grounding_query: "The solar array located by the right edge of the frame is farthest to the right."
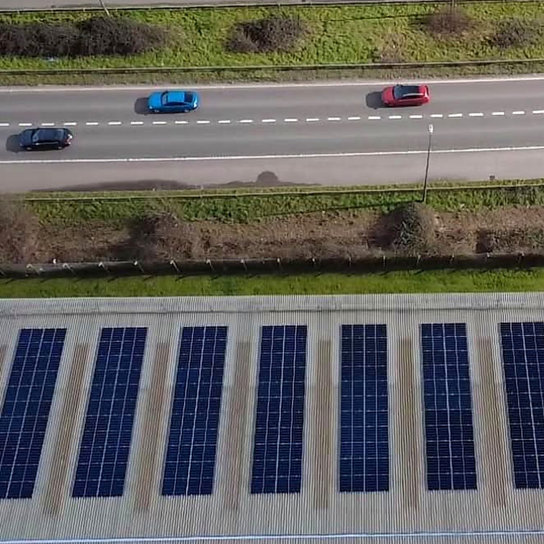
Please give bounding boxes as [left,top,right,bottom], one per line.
[499,322,544,490]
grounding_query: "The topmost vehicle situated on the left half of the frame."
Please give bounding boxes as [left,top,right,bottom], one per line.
[146,88,200,111]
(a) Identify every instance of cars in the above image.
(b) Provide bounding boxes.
[16,126,76,149]
[146,88,200,111]
[378,81,431,106]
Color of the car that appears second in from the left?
blue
